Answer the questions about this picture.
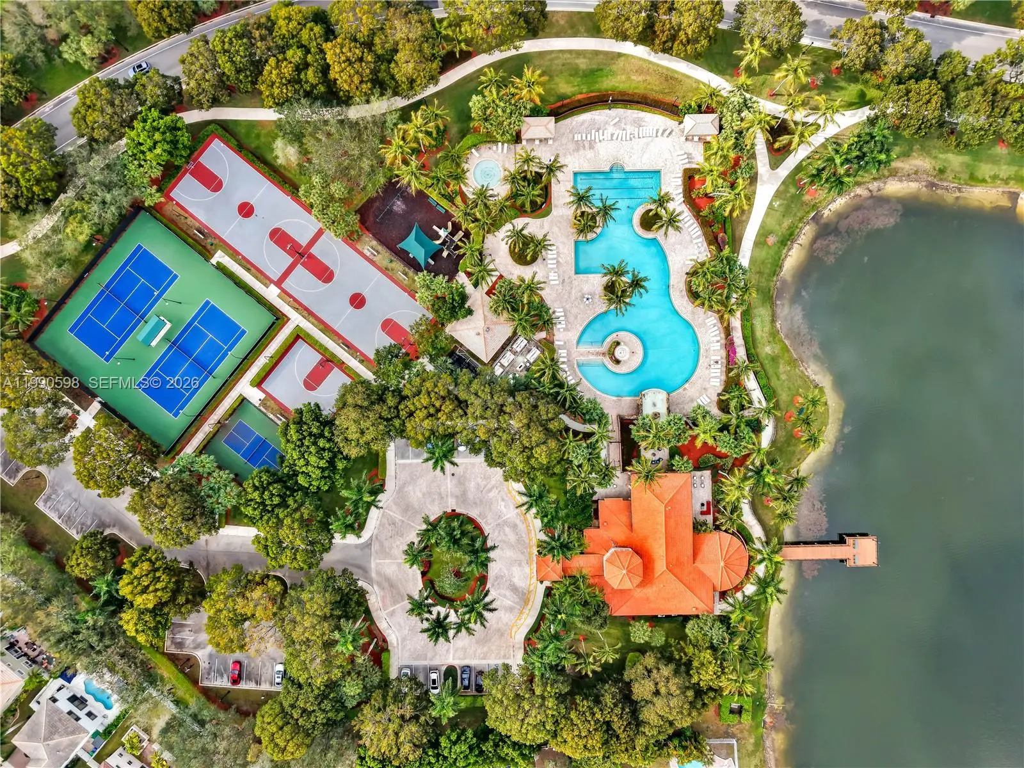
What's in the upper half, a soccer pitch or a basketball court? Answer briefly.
basketball court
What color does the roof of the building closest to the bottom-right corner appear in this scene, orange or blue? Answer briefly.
orange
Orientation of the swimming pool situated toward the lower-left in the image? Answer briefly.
at an angle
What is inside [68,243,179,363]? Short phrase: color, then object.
blue tennis court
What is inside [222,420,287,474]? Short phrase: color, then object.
blue sports court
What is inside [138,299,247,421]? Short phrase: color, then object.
blue tennis court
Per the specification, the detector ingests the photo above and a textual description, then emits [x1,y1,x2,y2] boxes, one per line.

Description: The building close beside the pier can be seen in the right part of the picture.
[536,473,749,615]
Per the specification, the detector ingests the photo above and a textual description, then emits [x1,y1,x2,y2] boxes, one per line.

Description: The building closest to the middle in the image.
[446,290,513,364]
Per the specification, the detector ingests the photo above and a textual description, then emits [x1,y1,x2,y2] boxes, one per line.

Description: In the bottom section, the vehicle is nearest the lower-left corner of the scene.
[229,662,241,686]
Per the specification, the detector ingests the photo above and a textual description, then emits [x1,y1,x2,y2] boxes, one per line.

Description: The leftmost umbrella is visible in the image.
[60,668,77,684]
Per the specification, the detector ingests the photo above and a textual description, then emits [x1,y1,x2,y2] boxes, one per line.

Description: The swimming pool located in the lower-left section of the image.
[82,677,114,711]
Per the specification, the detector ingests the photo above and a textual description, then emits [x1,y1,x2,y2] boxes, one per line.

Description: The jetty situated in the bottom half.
[777,532,880,567]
